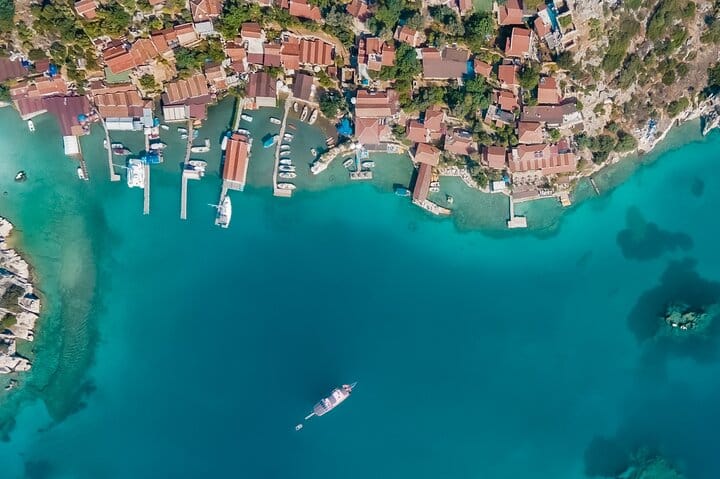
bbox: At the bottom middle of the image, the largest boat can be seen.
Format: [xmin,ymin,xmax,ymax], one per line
[307,385,357,421]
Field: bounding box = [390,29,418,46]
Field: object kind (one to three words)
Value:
house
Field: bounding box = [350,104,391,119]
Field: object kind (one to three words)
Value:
building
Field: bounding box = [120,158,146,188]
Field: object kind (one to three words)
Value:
boat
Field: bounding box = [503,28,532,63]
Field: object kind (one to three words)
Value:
house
